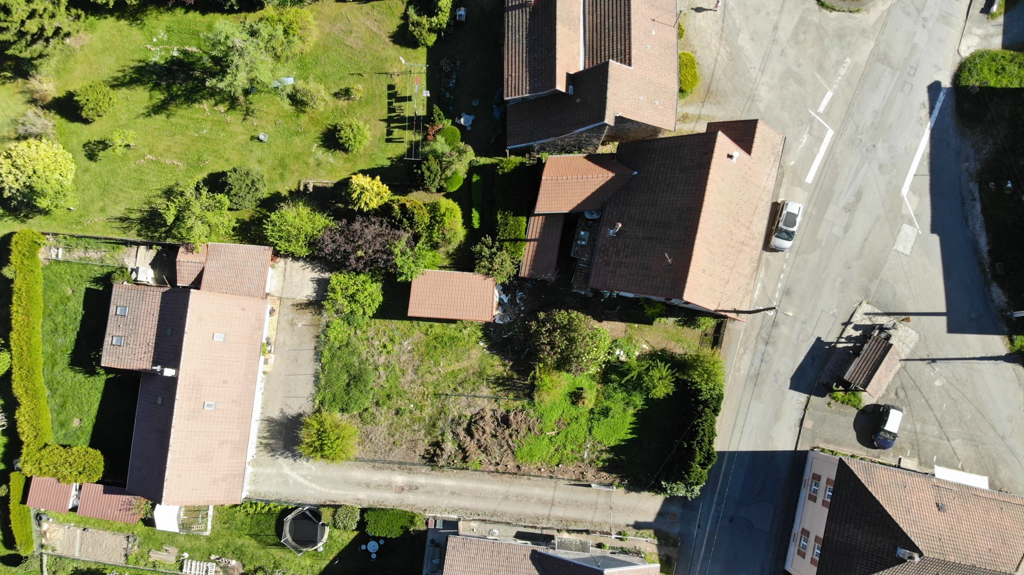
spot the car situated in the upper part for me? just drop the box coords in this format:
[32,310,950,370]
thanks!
[769,199,801,253]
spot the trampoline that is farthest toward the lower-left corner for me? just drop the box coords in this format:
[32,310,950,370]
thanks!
[275,508,329,562]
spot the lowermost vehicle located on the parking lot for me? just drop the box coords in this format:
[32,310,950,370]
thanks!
[870,402,902,452]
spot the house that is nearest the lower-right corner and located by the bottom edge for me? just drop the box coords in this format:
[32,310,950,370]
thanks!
[791,453,1024,575]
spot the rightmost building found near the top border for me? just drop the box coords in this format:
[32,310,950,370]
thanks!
[504,0,681,162]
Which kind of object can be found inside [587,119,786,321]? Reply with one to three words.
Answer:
house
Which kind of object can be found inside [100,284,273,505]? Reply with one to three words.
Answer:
house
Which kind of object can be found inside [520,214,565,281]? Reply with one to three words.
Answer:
shed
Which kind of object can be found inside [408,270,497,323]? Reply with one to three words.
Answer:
shed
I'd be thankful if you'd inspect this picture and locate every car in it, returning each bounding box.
[870,402,902,452]
[769,199,801,253]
